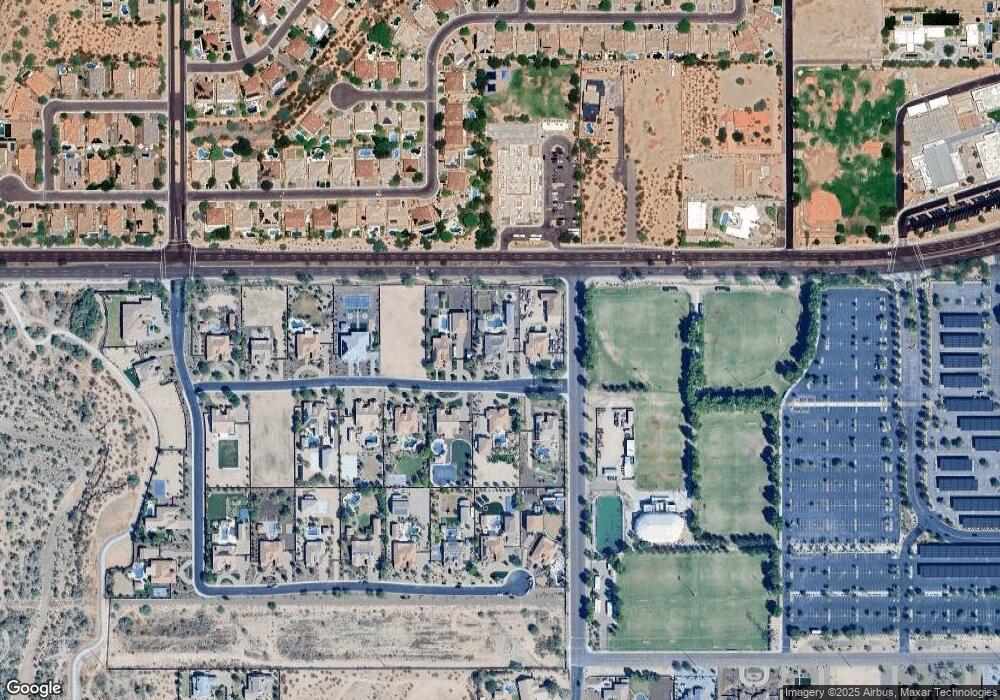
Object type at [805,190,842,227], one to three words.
baseball field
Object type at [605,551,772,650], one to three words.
sports field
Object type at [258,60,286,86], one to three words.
house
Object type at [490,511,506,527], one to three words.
swimming pool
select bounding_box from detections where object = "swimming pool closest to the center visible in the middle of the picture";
[483,314,504,329]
